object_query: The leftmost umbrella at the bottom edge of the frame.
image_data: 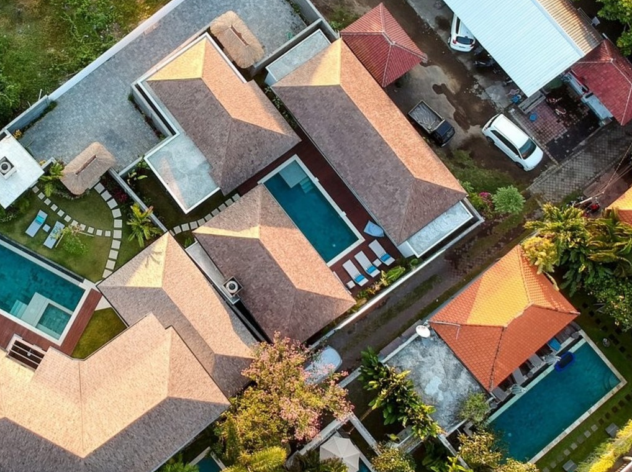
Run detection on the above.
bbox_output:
[317,432,361,472]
